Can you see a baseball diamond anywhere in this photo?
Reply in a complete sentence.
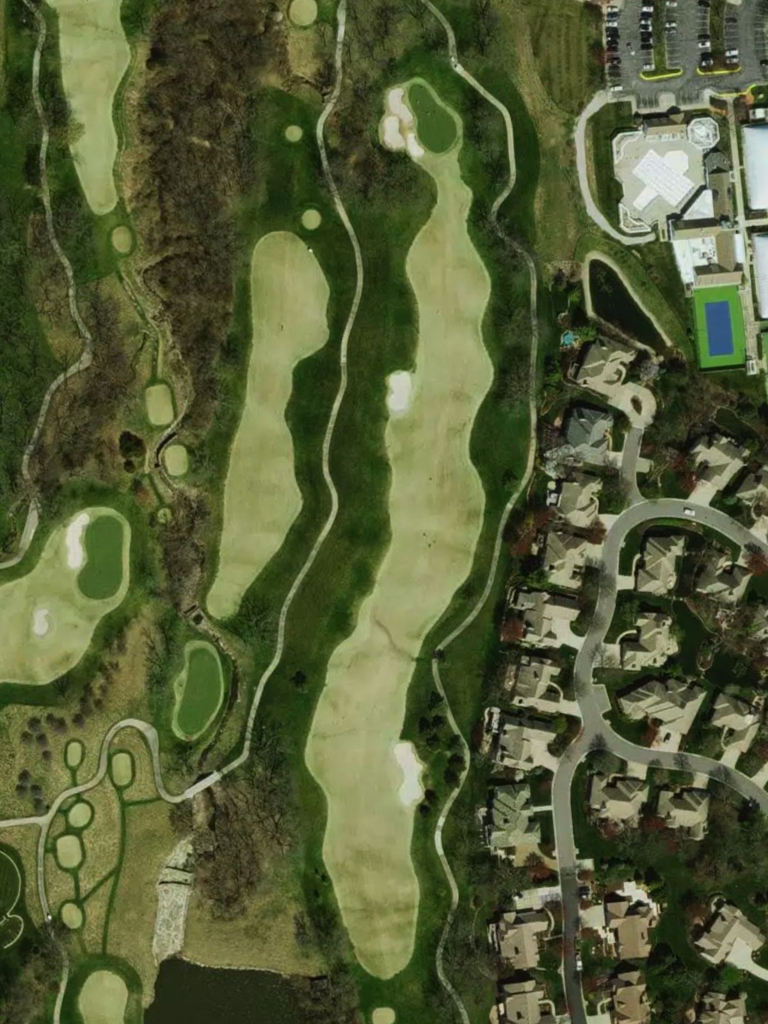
No, I can see no baseball diamond in this picture.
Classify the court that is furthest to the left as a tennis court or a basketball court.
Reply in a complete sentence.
I'd say the court that is furthest to the left is a tennis court.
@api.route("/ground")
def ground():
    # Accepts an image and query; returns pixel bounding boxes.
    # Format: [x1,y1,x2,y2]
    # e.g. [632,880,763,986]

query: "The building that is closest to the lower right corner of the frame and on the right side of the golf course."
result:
[705,991,749,1024]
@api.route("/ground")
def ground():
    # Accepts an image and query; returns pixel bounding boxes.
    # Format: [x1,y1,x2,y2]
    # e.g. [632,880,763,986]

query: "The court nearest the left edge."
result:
[694,284,747,372]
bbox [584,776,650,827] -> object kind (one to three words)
house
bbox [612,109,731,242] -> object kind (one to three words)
building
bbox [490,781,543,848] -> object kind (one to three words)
house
